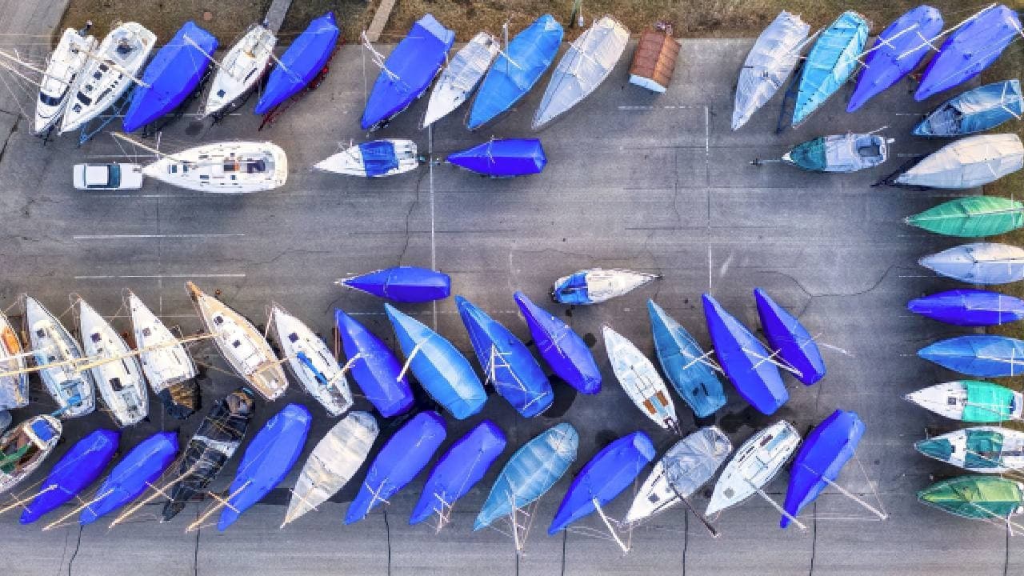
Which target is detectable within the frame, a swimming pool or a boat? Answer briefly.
boat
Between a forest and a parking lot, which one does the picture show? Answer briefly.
parking lot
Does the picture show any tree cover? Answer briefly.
No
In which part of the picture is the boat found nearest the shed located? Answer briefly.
top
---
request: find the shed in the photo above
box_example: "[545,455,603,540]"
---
[628,32,681,93]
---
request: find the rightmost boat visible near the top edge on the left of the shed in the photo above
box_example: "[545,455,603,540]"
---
[532,13,629,130]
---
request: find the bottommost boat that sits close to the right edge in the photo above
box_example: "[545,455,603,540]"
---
[918,476,1024,539]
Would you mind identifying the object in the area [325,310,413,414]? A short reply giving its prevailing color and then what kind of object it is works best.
blue boat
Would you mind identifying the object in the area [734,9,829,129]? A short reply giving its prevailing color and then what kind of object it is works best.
white boat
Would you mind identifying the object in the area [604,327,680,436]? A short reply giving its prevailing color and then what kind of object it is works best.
white boat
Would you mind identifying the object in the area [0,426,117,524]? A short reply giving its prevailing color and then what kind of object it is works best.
blue boat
